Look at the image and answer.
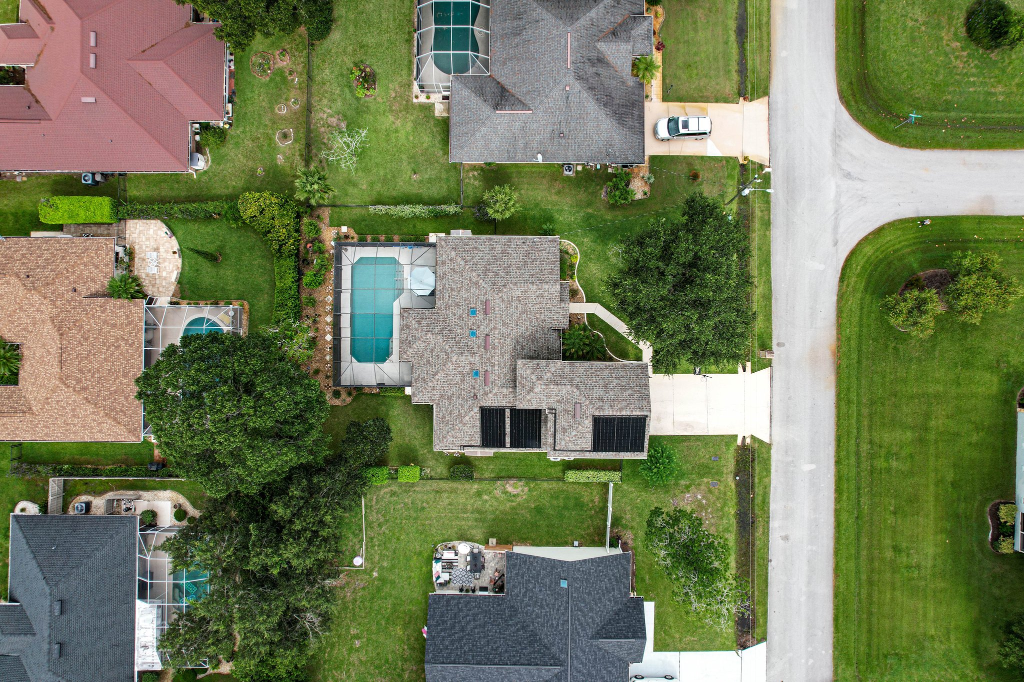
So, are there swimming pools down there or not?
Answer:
Yes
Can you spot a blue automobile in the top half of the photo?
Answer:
No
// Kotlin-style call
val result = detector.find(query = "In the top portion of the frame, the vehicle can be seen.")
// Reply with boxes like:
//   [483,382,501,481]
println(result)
[655,113,715,144]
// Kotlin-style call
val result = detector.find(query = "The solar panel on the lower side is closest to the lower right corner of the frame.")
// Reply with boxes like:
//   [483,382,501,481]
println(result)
[592,416,647,452]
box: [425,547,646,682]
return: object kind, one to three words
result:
house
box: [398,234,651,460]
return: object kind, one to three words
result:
house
